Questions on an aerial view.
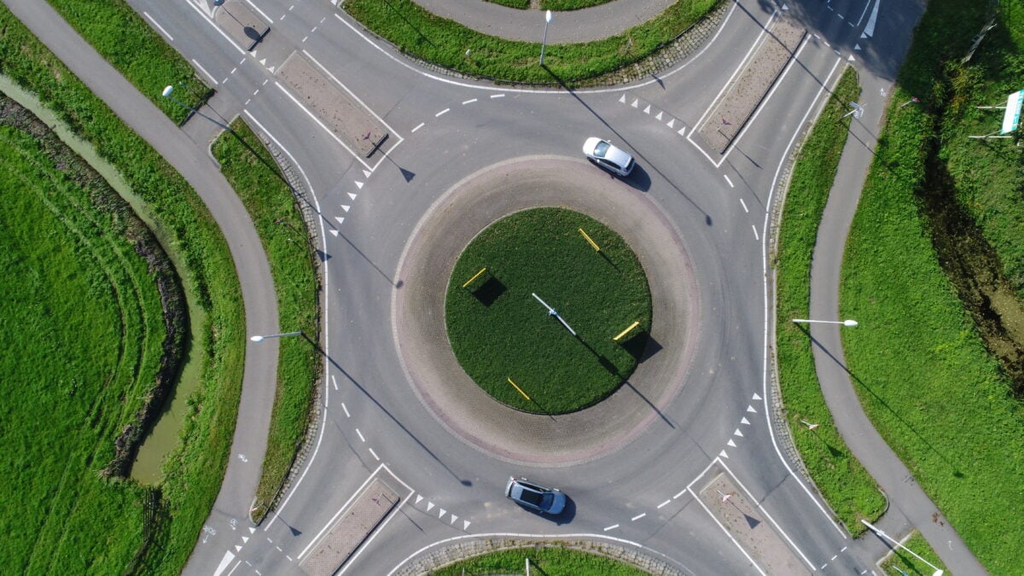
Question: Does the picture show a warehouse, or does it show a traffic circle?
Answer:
traffic circle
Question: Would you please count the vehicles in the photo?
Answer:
2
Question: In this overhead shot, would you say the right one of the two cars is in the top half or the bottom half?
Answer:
top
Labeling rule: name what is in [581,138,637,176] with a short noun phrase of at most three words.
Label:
car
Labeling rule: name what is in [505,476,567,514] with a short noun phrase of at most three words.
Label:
car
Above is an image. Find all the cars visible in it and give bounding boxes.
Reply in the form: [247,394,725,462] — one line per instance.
[505,476,567,514]
[581,138,637,176]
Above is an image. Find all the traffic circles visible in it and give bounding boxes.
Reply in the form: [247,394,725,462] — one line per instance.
[329,93,764,530]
